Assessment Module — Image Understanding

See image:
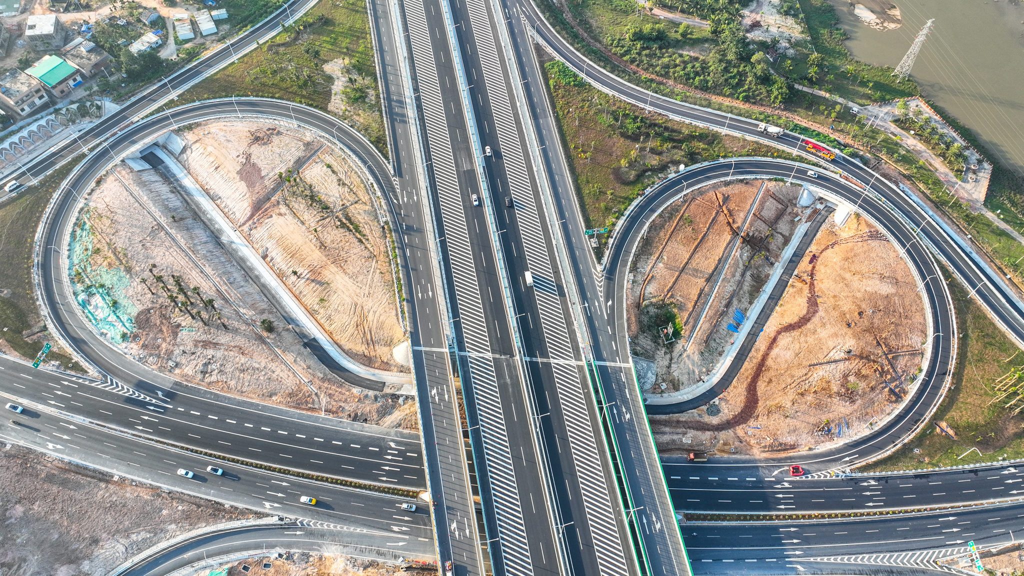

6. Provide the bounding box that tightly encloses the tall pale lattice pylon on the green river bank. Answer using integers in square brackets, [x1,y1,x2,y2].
[890,19,934,83]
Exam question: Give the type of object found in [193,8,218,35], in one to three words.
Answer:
shed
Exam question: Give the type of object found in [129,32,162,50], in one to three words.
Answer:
shed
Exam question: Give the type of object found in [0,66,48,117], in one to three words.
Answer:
house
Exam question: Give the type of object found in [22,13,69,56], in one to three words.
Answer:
building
